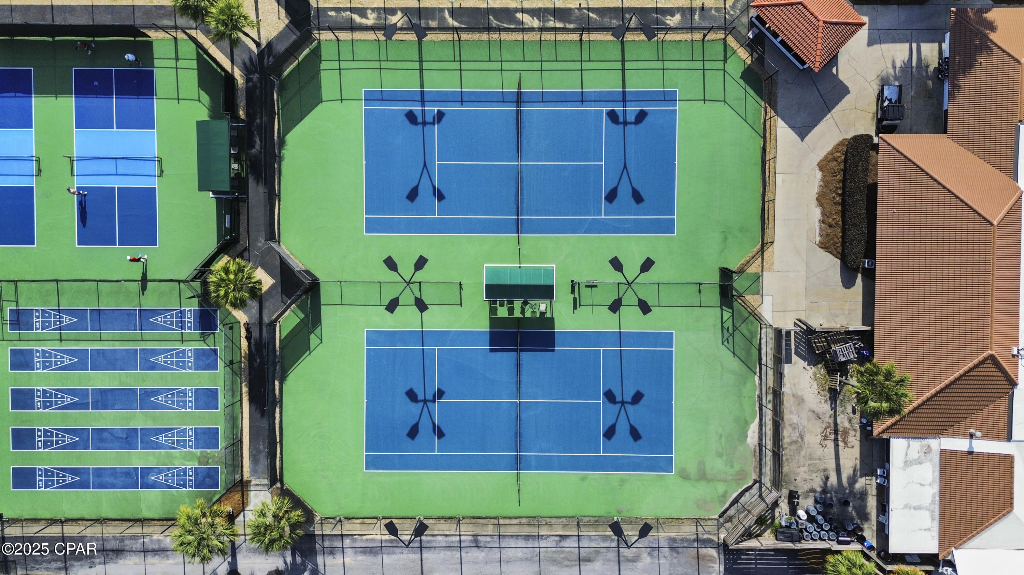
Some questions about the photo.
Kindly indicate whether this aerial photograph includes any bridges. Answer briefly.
No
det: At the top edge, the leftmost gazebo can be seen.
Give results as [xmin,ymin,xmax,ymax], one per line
[743,0,868,77]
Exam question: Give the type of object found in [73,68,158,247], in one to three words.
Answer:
sports court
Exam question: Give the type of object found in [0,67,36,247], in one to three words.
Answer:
sports court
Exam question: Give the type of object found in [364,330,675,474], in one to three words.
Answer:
tennis court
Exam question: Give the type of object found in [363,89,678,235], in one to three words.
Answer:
tennis court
